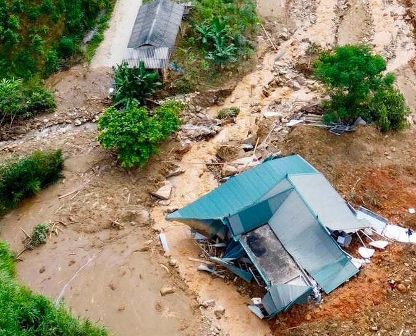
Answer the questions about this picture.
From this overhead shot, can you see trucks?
No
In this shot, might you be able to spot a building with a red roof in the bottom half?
No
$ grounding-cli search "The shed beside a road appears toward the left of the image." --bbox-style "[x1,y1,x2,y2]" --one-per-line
[117,0,185,85]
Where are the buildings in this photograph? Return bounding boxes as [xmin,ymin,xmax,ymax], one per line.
[117,0,185,85]
[166,154,381,319]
